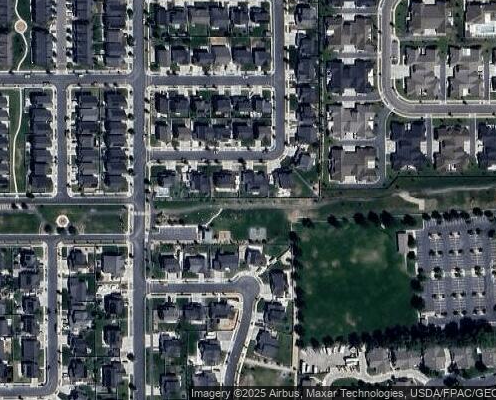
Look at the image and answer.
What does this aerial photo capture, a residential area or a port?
residential area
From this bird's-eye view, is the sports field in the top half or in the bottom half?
bottom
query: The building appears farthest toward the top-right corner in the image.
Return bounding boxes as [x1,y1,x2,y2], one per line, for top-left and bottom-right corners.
[467,0,496,22]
